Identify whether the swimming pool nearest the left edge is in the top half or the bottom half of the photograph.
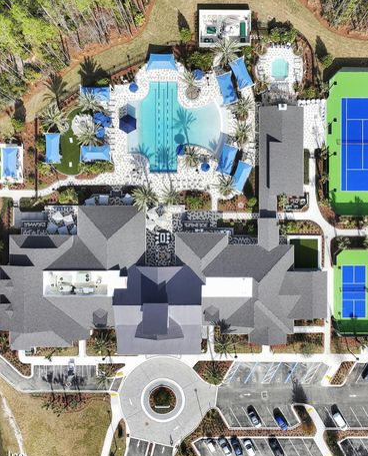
top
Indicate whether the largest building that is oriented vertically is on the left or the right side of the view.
right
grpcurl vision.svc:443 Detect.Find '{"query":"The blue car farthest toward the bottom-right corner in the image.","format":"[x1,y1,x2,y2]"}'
[274,412,288,431]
